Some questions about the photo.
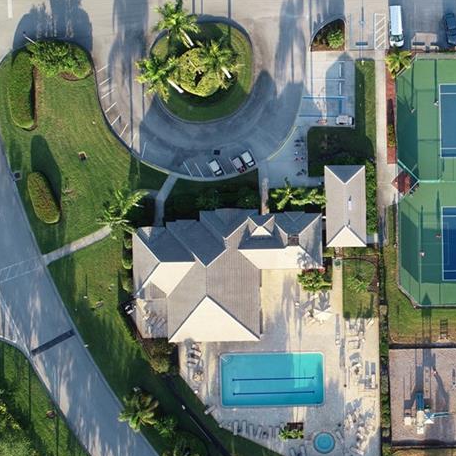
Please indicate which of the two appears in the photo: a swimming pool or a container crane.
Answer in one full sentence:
This aerial view contains a swimming pool.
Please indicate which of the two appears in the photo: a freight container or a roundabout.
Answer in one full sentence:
It is a roundabout that can be seen here.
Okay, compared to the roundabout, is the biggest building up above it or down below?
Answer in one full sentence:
Looking at the photo, you'll find the biggest building below the roundabout.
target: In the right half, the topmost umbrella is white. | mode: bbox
[314,308,330,324]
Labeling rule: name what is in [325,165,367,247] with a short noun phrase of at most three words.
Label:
shed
